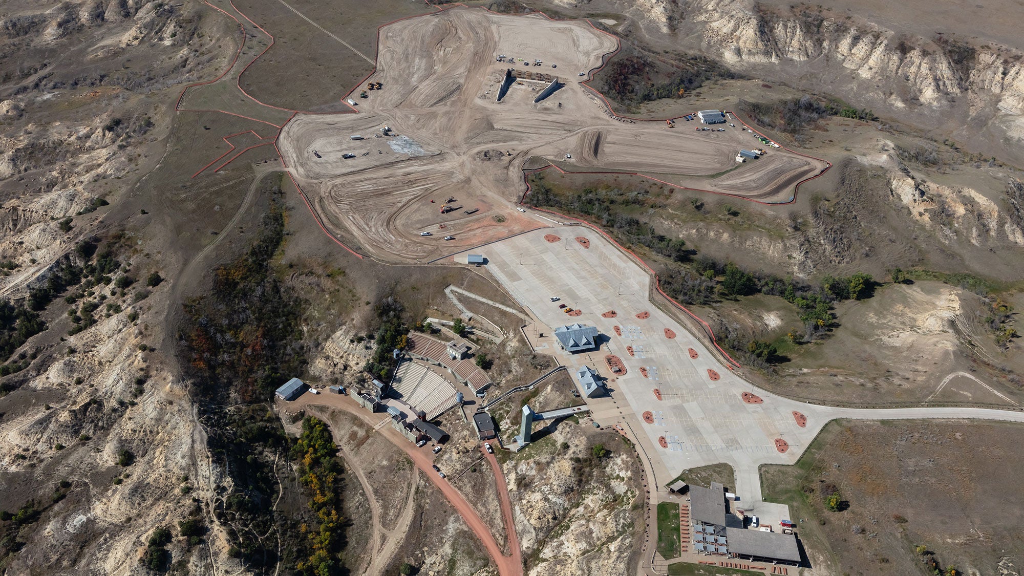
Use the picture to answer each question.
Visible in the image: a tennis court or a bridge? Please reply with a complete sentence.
There is a bridge in the scene.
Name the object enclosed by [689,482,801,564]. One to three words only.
building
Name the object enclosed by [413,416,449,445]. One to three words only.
building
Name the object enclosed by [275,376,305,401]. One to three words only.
barn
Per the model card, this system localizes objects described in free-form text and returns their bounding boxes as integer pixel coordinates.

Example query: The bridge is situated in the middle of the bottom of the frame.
[531,404,591,441]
